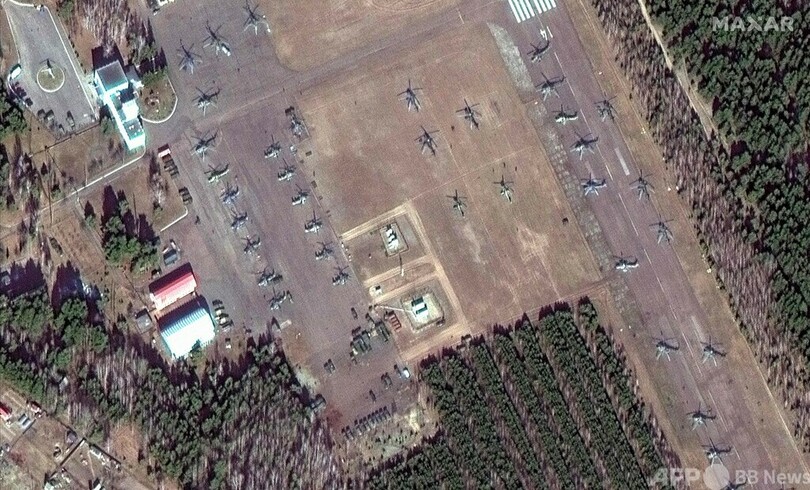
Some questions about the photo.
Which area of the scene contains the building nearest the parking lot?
top left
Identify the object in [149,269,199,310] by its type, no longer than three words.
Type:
building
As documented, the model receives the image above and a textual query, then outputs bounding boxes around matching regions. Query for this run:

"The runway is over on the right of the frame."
[502,0,787,490]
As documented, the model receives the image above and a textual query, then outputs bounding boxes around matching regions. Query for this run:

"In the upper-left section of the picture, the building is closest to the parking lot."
[96,59,146,151]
